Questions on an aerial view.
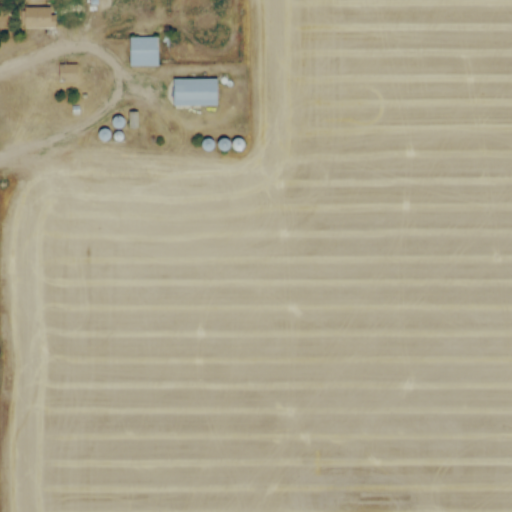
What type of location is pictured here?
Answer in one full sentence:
What you see here is farmland.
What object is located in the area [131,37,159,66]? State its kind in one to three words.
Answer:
barn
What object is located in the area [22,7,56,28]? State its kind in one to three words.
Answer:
house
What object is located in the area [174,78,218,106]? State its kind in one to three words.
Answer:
barn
